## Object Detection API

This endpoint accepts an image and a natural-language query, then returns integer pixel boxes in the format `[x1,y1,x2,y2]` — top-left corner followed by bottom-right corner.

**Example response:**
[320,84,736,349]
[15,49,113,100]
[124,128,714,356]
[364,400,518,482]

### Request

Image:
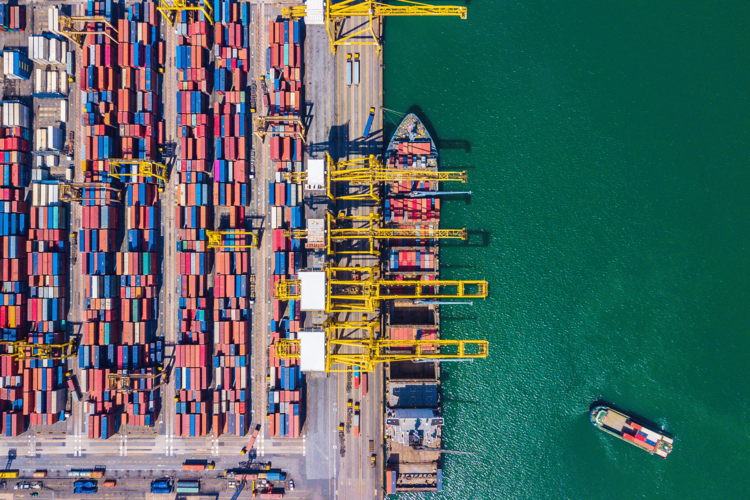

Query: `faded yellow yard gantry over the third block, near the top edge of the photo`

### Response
[58,16,119,51]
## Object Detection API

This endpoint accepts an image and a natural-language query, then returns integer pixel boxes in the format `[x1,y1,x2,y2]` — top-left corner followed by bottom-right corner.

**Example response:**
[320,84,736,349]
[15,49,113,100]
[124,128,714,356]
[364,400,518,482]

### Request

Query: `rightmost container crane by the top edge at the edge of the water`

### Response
[281,0,469,61]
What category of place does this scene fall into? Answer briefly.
port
